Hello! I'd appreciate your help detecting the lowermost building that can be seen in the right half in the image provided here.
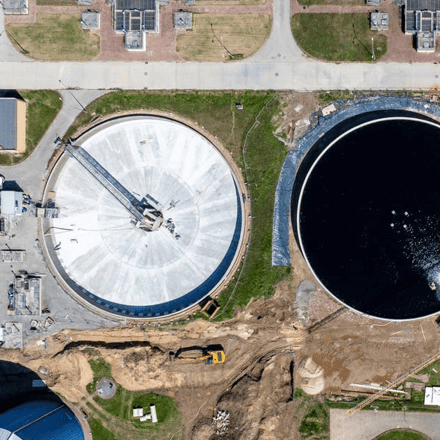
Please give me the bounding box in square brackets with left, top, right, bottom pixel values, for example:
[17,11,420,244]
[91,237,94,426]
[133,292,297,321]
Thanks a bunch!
[415,30,434,53]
